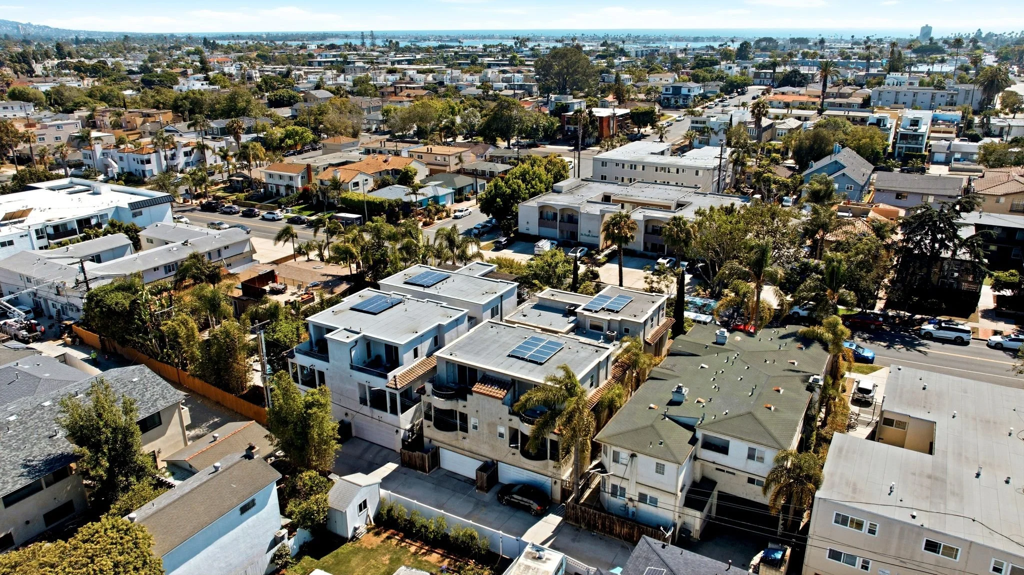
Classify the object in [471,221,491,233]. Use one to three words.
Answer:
vehicle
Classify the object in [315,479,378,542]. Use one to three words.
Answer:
shed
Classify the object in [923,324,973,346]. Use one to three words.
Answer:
car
